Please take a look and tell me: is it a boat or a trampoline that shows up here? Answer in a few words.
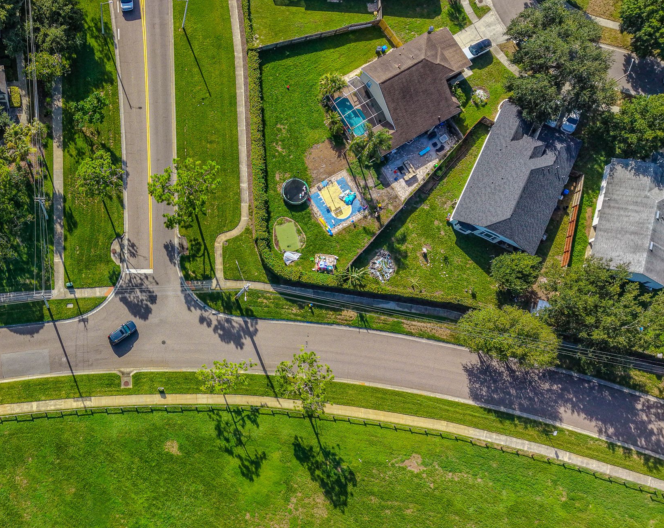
trampoline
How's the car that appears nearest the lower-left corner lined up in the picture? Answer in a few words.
diagonally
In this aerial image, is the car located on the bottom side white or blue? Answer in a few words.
blue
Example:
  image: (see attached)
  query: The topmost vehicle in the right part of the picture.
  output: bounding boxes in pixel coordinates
[463,38,495,61]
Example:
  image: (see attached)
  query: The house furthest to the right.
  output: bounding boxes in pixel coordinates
[580,152,664,279]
